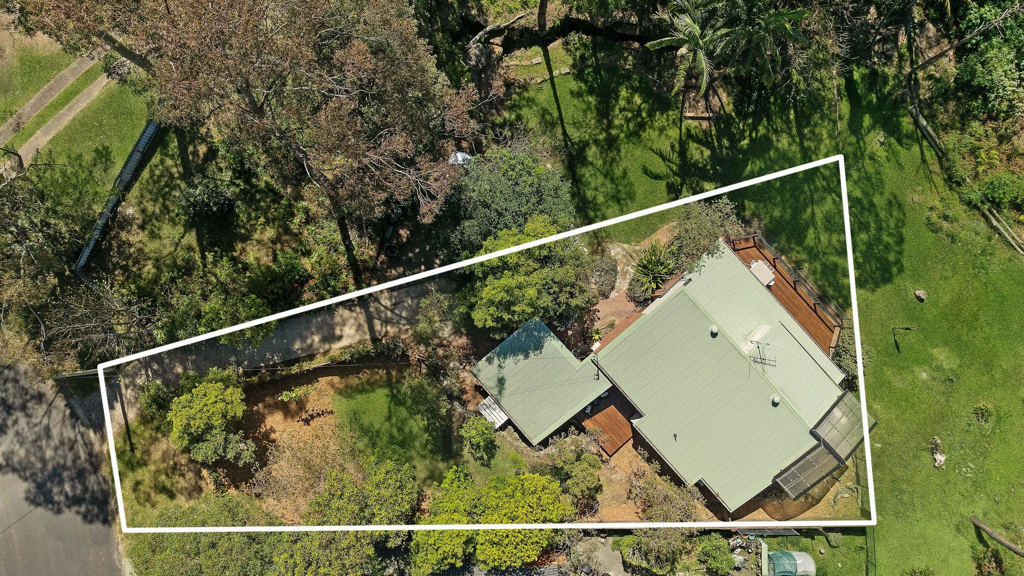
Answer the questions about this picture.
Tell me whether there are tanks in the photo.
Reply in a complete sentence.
No, no tank is visible in the scene.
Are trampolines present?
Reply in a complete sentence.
No, there is no trampoline in the image.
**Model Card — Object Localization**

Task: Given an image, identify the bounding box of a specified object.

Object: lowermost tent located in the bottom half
[773,549,819,576]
